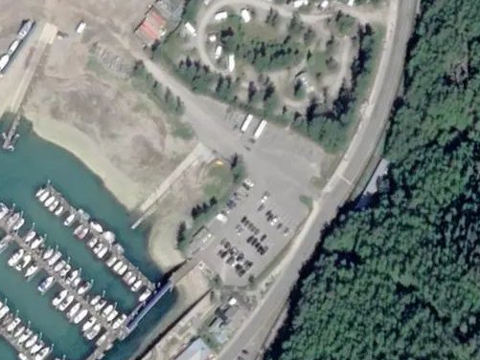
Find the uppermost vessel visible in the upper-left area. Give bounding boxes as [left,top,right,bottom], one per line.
[13,20,31,39]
